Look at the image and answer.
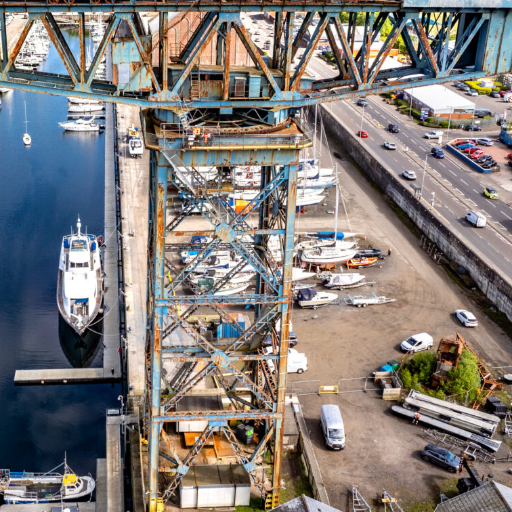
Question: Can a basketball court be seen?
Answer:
No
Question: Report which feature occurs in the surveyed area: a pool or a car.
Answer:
car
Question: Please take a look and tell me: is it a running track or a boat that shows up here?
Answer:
boat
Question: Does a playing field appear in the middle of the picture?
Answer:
No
